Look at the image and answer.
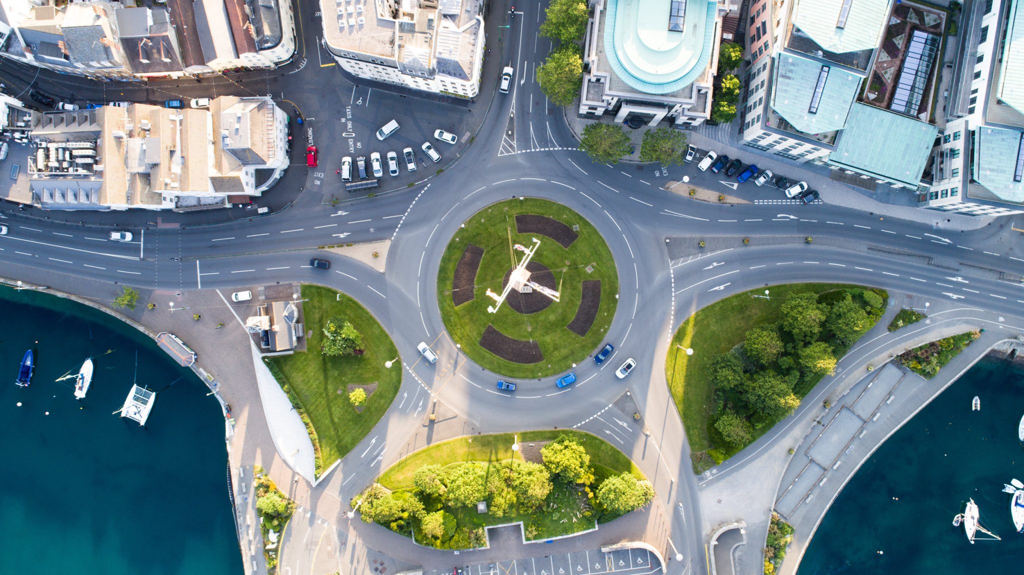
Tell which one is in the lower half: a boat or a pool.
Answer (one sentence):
The feature located in the lower half is a boat.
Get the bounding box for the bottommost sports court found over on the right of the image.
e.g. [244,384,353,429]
[775,460,828,520]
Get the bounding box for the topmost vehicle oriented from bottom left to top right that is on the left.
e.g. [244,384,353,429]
[376,119,400,140]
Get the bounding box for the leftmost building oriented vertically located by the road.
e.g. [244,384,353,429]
[0,93,49,205]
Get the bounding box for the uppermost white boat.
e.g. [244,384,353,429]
[51,360,92,398]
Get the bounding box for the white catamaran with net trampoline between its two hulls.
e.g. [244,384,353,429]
[106,383,156,430]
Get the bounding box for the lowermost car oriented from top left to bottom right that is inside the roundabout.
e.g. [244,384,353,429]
[418,341,438,364]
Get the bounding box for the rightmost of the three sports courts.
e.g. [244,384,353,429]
[849,362,907,422]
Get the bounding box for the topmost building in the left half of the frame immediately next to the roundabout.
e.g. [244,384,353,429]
[319,0,488,100]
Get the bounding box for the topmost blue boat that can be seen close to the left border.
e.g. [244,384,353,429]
[17,351,32,388]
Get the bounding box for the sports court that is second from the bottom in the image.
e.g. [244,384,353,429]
[804,404,867,470]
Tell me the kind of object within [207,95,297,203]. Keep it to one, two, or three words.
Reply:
building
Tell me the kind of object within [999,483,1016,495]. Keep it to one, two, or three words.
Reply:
boat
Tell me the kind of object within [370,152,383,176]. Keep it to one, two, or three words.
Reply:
vehicle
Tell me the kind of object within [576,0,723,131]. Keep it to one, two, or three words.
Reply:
building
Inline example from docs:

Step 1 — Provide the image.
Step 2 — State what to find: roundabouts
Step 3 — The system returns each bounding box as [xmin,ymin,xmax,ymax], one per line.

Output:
[384,144,673,432]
